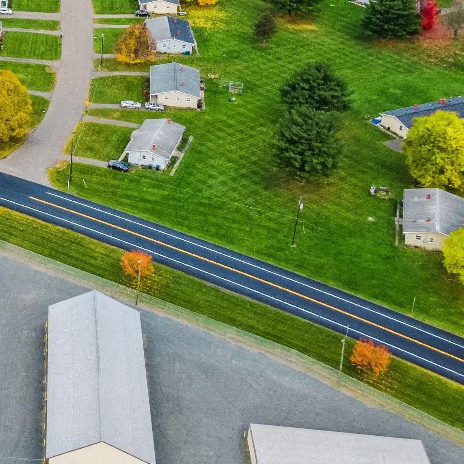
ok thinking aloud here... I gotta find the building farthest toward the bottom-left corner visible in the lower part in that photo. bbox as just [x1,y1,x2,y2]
[47,290,156,464]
